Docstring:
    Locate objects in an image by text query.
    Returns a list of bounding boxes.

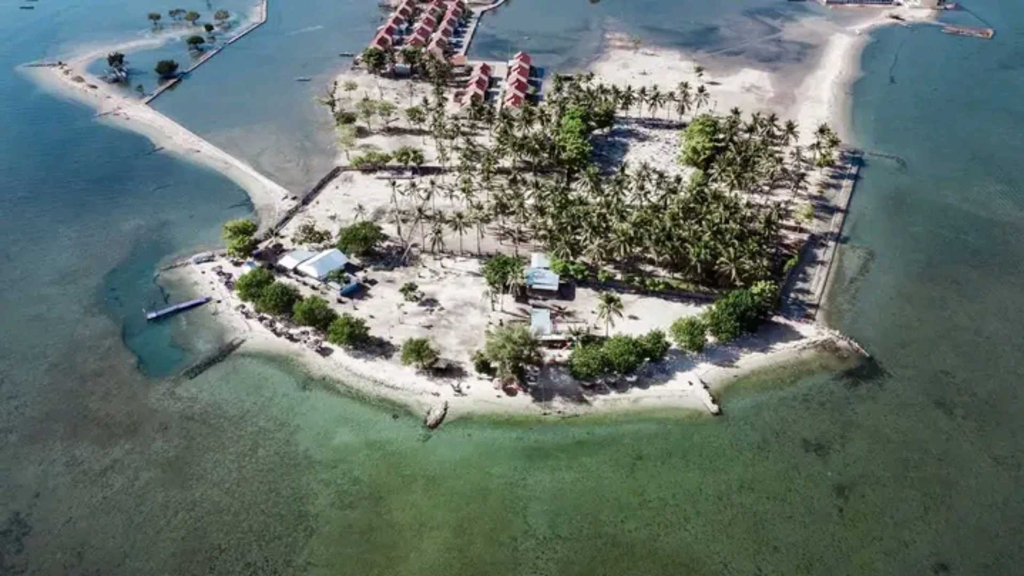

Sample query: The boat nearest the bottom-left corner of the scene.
[144,295,211,318]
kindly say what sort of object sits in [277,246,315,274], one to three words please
shed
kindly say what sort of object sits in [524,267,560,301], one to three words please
house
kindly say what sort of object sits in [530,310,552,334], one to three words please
shed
